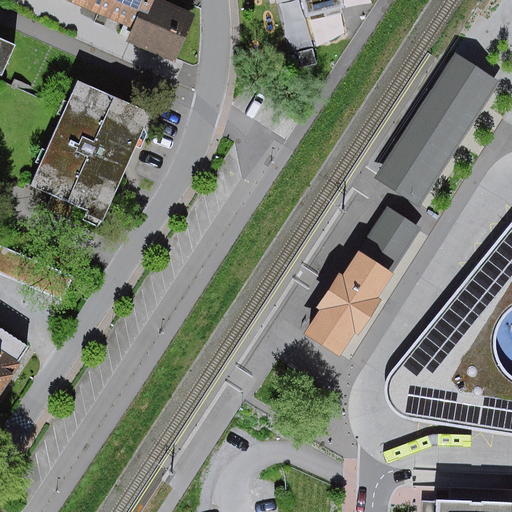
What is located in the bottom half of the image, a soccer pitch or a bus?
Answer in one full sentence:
What appears in the bottom half of the image is a bus.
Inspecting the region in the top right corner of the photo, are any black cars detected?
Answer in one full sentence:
No, there's no black car to be seen in the top right corner of the photo.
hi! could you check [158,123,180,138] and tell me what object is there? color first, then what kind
gray car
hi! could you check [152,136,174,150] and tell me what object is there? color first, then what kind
white vehicle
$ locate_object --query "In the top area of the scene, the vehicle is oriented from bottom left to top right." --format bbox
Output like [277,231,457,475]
[246,94,265,118]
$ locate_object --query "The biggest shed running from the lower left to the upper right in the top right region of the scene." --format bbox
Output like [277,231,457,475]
[374,52,499,206]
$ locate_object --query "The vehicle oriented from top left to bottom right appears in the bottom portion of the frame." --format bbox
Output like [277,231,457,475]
[226,432,250,450]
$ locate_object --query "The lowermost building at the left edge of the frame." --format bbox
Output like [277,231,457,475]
[0,328,28,395]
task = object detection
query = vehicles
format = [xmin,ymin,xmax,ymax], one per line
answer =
[356,488,366,512]
[392,470,412,482]
[152,136,174,150]
[380,434,472,466]
[138,151,164,167]
[226,432,250,450]
[246,94,265,118]
[162,111,182,125]
[254,501,276,512]
[158,123,180,138]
